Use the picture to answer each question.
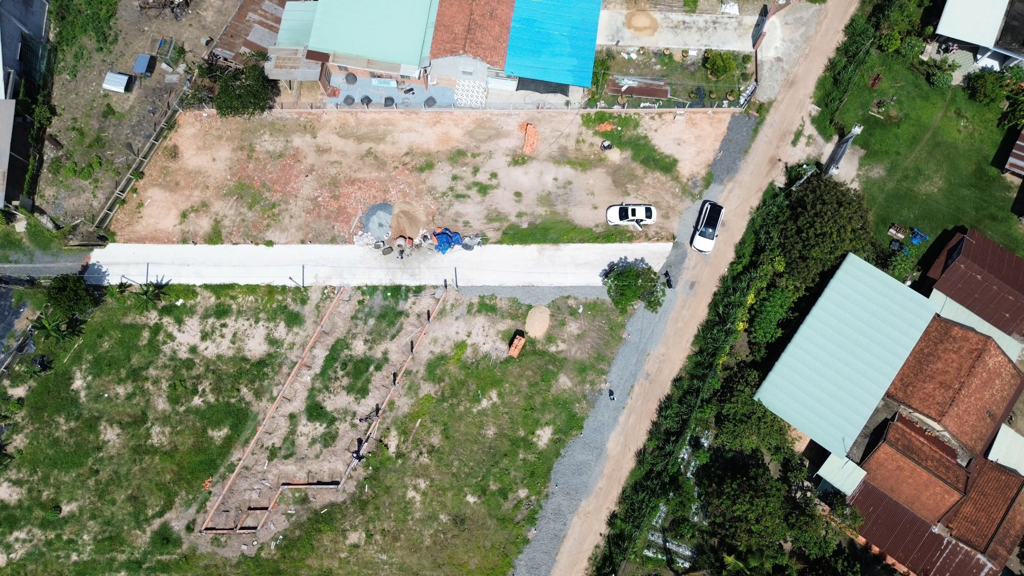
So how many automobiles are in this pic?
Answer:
two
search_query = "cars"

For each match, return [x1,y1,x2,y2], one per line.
[693,201,721,252]
[607,202,658,232]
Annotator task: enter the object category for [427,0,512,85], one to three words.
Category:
house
